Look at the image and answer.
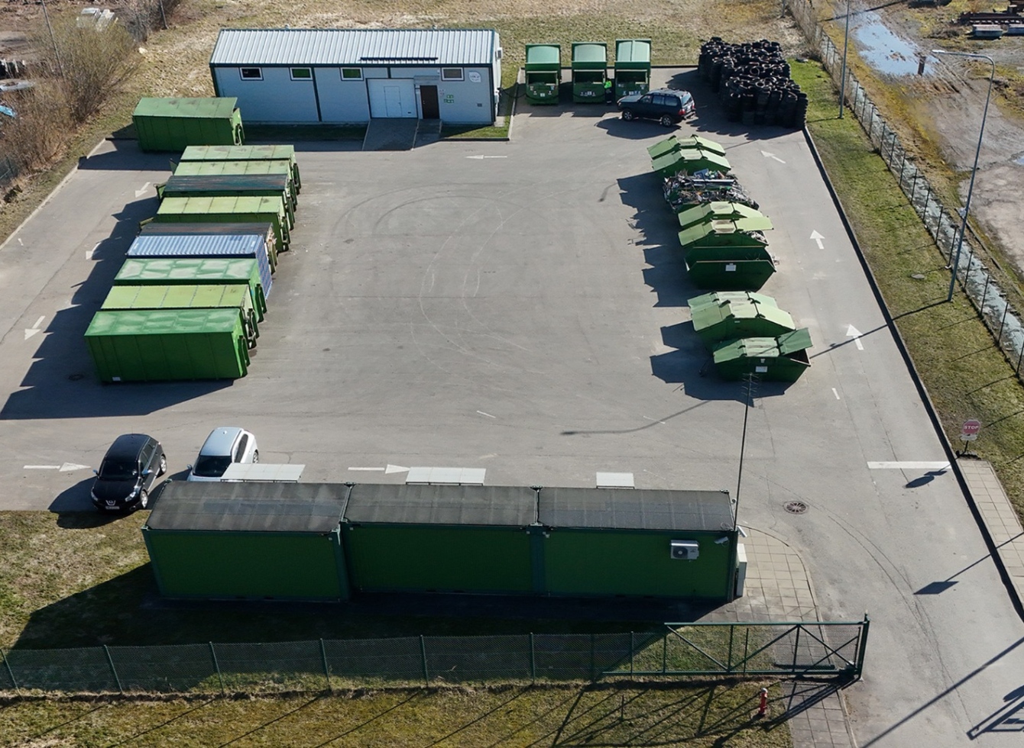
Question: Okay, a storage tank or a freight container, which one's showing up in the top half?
freight container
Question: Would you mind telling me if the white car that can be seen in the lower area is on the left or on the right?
left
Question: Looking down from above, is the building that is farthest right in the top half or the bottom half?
bottom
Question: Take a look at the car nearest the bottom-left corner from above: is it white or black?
black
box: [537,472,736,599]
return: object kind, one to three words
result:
building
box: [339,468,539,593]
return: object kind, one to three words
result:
building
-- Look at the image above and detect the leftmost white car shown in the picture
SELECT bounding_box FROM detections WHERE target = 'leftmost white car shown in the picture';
[184,424,254,483]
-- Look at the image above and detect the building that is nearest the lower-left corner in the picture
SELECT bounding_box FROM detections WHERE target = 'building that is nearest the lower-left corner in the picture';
[139,467,354,603]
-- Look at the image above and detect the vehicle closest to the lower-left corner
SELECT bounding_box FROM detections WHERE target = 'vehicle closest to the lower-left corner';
[89,427,167,514]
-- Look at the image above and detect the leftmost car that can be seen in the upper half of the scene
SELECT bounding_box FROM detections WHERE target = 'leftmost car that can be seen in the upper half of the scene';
[616,87,694,125]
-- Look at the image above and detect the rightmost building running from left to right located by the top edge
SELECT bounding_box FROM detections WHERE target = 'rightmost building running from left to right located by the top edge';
[208,24,504,122]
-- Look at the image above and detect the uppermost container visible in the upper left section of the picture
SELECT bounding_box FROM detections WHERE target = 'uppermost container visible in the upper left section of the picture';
[134,98,247,149]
